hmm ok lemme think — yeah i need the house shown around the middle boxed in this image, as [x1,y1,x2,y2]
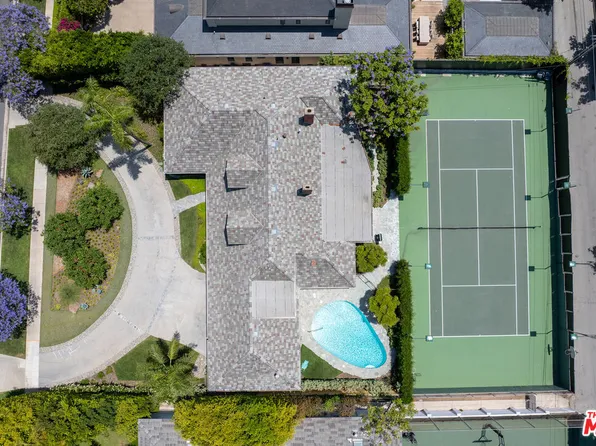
[164,66,373,392]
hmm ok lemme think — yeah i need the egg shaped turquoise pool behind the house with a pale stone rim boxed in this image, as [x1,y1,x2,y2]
[308,297,390,371]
